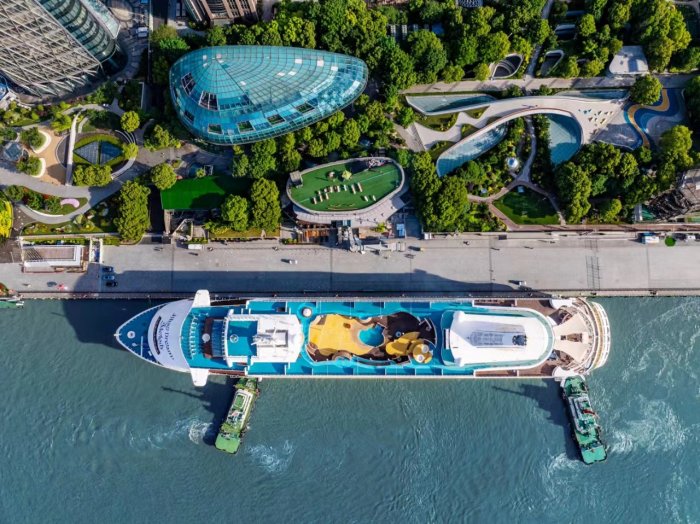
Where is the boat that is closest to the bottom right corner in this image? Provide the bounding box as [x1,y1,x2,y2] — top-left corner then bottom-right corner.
[563,376,608,466]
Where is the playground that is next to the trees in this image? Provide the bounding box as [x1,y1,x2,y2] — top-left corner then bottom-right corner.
[621,86,699,154]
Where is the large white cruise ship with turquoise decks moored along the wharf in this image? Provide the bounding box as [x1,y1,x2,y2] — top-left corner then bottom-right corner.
[107,290,611,386]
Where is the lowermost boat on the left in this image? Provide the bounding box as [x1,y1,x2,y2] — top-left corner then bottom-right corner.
[216,378,265,455]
